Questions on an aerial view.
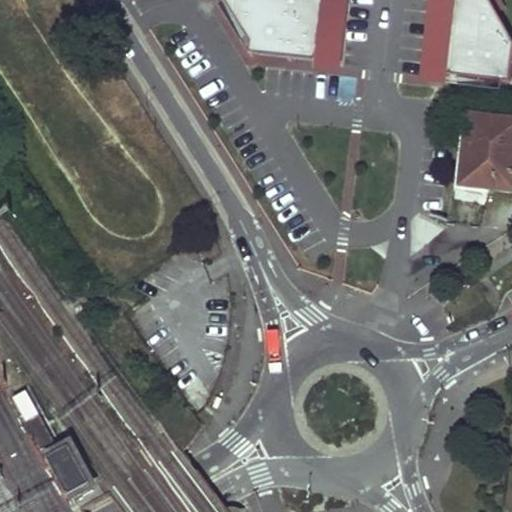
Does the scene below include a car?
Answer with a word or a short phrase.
Yes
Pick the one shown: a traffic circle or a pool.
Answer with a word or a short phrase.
traffic circle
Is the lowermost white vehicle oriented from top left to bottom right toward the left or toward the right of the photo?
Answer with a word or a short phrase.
right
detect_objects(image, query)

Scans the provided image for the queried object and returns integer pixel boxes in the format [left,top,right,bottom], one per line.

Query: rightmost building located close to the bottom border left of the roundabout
[45,435,92,494]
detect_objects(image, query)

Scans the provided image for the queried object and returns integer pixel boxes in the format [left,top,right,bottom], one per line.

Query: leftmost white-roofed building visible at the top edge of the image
[219,0,349,70]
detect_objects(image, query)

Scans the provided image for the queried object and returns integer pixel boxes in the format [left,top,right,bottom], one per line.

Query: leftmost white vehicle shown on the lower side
[146,328,167,346]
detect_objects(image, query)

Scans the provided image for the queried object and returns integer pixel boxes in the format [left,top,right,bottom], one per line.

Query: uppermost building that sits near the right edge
[420,0,512,90]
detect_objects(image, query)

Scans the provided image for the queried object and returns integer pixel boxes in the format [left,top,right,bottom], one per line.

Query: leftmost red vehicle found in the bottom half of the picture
[267,325,282,372]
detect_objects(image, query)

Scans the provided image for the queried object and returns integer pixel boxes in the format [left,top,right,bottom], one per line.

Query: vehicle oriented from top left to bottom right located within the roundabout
[360,348,379,367]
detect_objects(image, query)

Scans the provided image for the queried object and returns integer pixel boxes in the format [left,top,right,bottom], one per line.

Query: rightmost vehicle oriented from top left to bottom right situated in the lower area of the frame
[410,314,430,338]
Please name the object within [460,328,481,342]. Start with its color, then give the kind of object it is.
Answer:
white car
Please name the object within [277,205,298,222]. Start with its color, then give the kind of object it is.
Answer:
white car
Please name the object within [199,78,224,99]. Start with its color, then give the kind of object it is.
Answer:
white vehicle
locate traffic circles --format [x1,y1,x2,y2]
[264,334,418,474]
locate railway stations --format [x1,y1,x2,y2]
[0,384,72,512]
